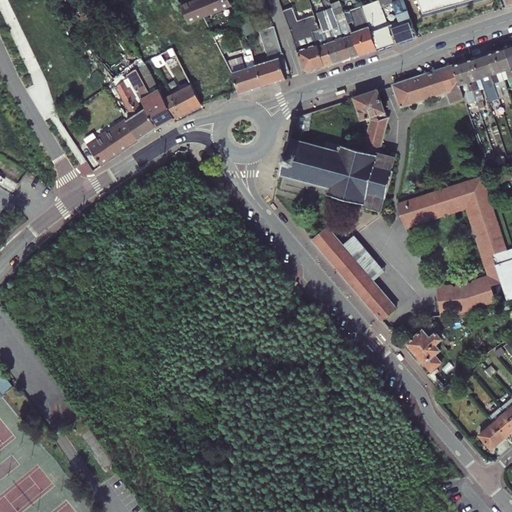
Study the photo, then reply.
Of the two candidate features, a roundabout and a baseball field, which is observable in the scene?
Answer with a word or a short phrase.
roundabout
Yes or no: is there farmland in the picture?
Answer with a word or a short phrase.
No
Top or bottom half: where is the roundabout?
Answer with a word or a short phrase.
top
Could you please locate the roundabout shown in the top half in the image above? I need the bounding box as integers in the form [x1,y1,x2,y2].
[212,100,276,164]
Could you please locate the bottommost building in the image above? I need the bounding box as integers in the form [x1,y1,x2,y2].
[480,408,512,454]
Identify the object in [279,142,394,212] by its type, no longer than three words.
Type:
building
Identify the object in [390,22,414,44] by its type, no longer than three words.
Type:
building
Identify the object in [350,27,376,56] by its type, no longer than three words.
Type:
house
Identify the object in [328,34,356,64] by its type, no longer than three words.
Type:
house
